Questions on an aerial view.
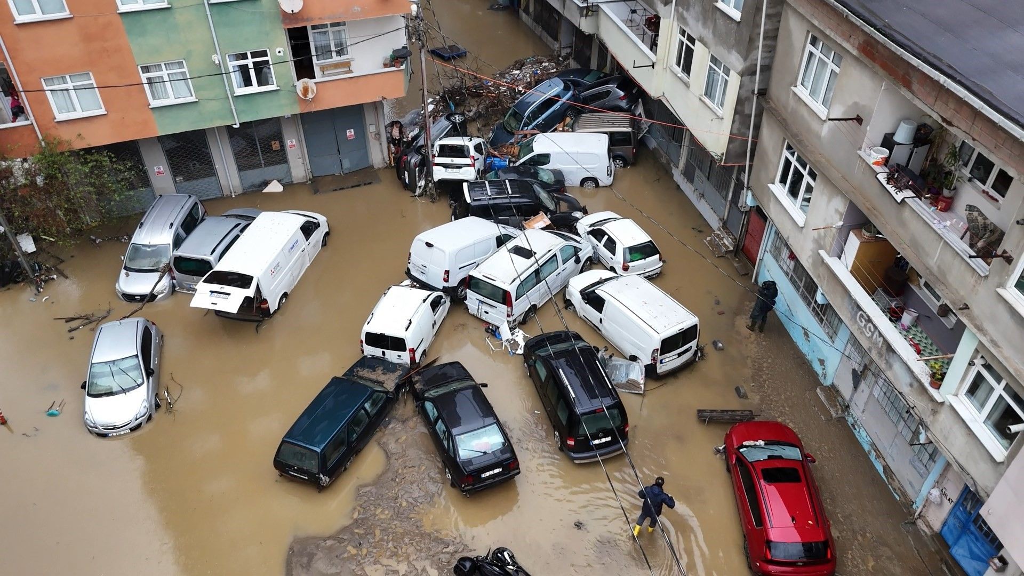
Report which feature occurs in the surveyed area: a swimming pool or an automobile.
automobile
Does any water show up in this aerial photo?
Yes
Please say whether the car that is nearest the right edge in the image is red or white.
red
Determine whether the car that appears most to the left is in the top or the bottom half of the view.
bottom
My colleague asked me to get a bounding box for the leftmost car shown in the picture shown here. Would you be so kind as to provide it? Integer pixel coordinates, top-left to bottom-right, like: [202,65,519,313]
[77,318,161,431]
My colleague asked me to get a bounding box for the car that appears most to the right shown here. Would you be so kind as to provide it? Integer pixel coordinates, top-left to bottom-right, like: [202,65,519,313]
[726,427,835,576]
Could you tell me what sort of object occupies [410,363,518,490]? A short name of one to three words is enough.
car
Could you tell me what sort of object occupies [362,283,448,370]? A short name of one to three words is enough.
van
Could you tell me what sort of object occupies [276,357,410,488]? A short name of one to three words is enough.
car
